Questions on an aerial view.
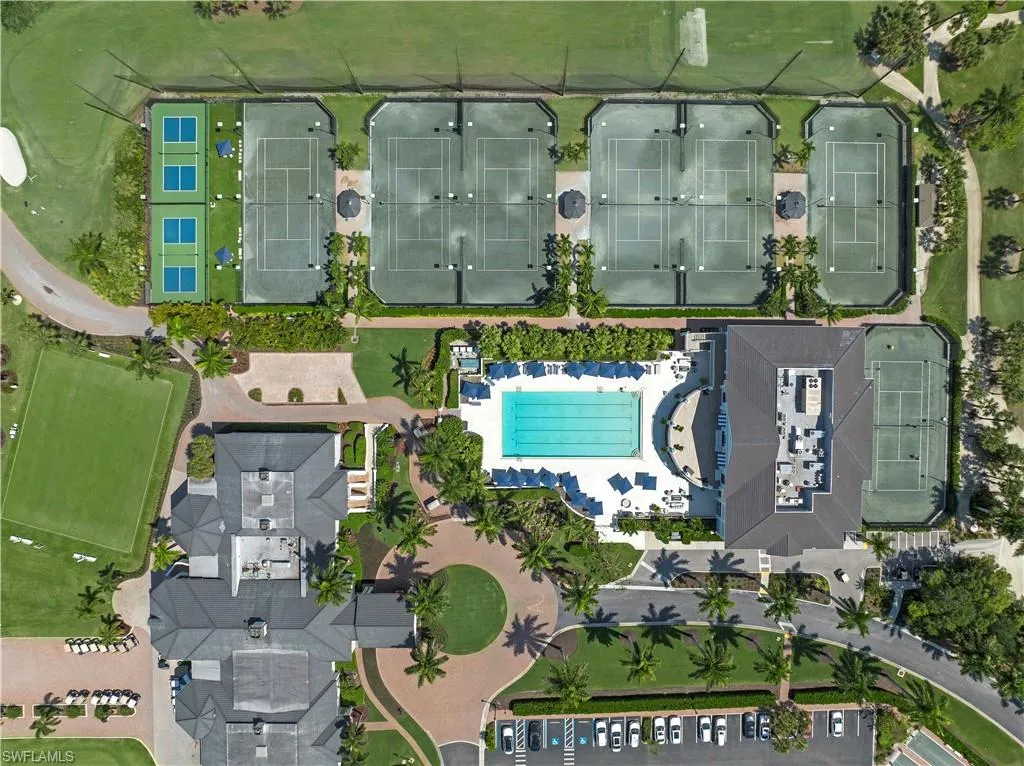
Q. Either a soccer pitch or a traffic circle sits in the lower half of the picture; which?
traffic circle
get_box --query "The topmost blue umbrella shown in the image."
[216,139,234,158]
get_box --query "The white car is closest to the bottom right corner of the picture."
[829,710,843,738]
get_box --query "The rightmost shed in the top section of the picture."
[915,185,935,229]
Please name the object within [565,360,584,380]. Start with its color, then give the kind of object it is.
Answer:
blue umbrella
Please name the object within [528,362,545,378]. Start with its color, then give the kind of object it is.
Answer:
blue umbrella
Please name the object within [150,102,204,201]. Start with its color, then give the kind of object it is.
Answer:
green sports court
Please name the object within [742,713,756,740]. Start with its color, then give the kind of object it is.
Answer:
black car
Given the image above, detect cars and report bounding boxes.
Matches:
[668,715,682,744]
[528,720,541,751]
[502,724,515,753]
[757,714,770,741]
[713,716,728,746]
[742,713,756,740]
[610,723,623,751]
[595,719,608,747]
[652,716,666,745]
[698,715,712,743]
[628,720,641,748]
[829,710,843,738]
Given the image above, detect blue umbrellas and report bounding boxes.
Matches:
[628,361,646,381]
[215,245,236,266]
[589,502,603,517]
[462,381,479,398]
[612,476,633,496]
[525,471,539,486]
[506,469,524,488]
[571,491,588,508]
[476,384,492,399]
[562,474,580,492]
[488,362,505,379]
[642,476,657,491]
[528,362,545,378]
[582,361,599,378]
[614,362,630,379]
[599,362,614,378]
[216,139,234,158]
[539,470,558,490]
[565,360,584,380]
[502,361,520,379]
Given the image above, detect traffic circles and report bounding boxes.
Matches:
[415,563,508,656]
